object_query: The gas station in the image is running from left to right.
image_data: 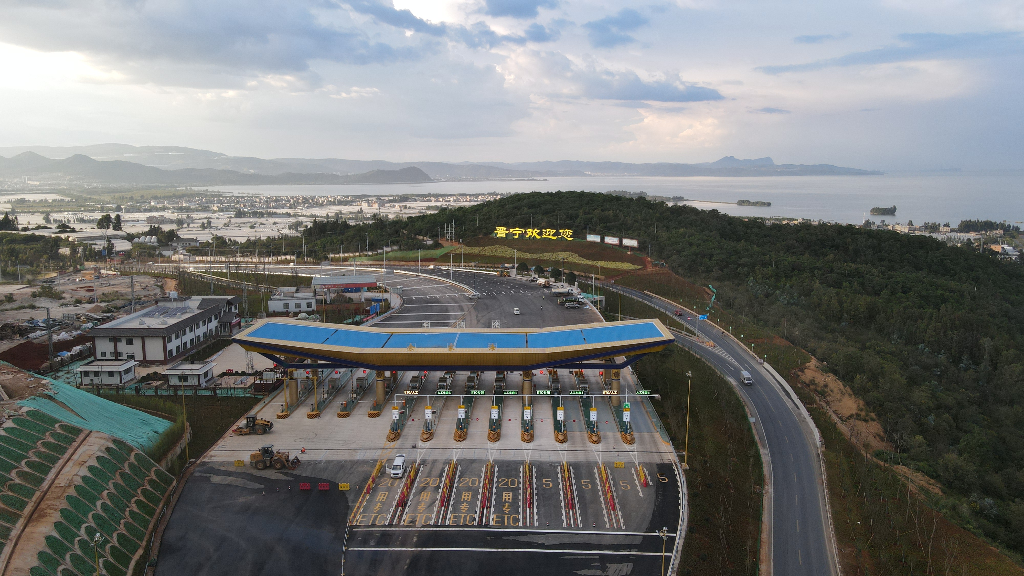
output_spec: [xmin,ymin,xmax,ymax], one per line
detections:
[308,275,384,299]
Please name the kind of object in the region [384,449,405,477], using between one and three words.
vehicle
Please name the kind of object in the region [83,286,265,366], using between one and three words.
building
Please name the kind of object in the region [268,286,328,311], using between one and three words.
building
